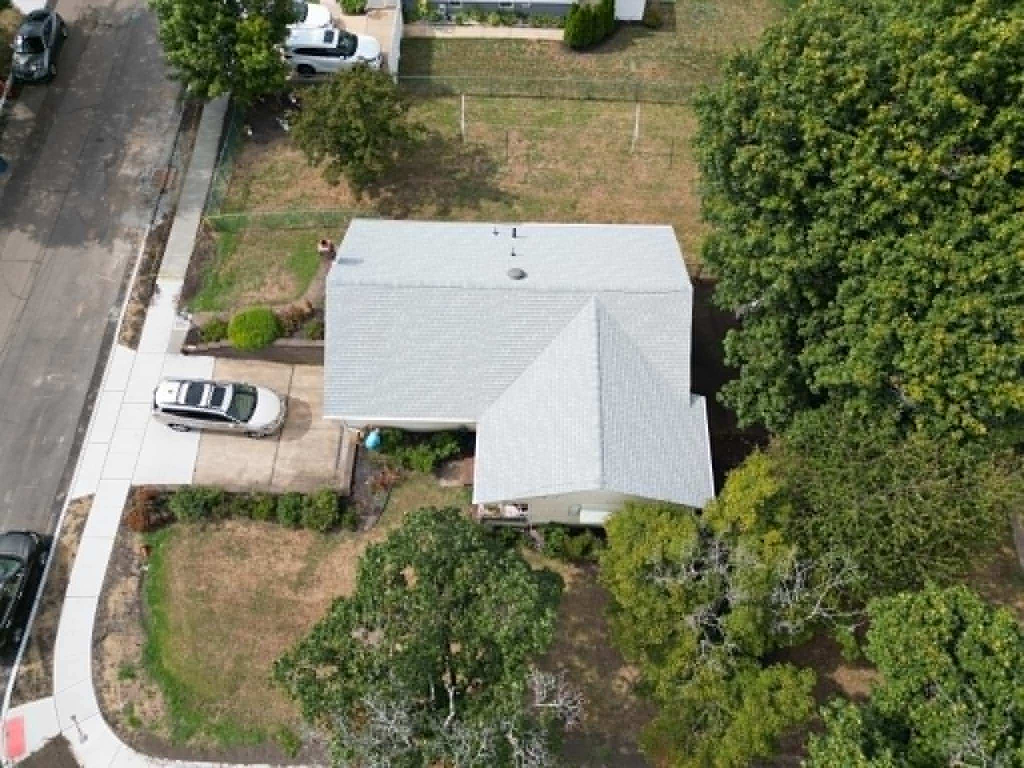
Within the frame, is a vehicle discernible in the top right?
No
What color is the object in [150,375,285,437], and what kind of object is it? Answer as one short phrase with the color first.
white car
